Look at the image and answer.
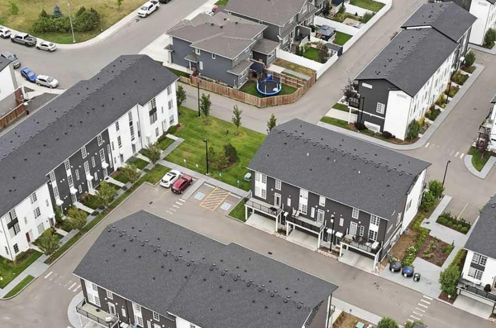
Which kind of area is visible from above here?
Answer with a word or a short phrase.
residential area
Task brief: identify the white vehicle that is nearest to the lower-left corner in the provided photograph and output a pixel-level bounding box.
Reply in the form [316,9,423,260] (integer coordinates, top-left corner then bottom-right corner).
[158,168,181,187]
